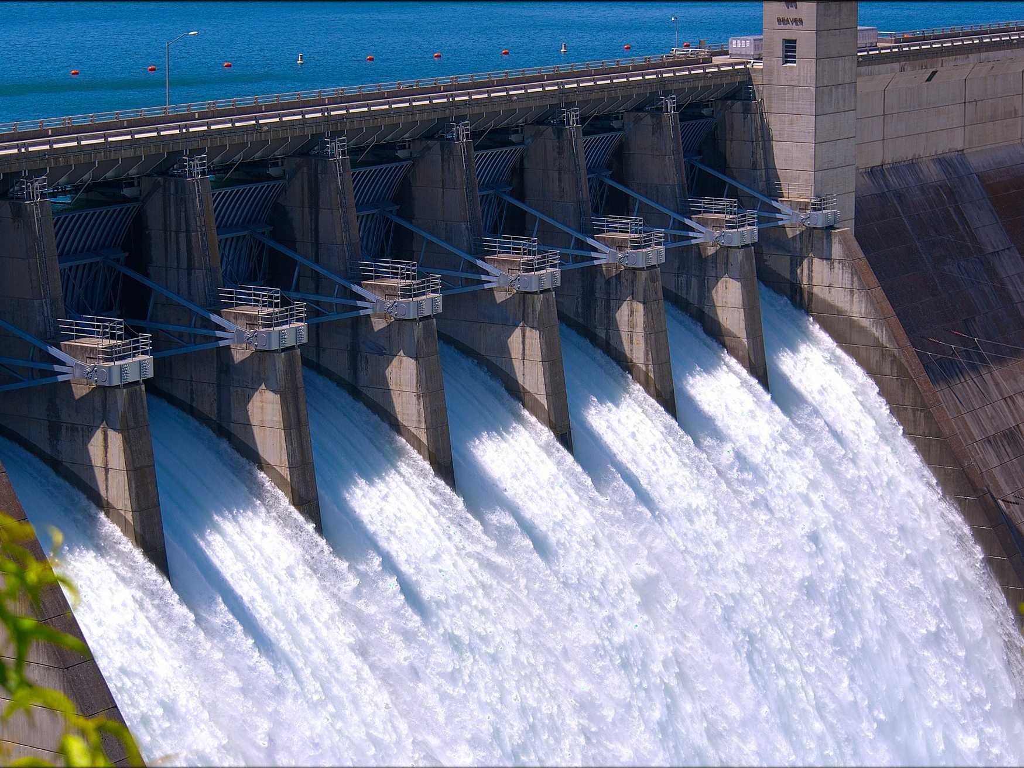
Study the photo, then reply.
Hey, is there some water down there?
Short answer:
Yes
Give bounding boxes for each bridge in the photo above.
[0,53,751,205]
